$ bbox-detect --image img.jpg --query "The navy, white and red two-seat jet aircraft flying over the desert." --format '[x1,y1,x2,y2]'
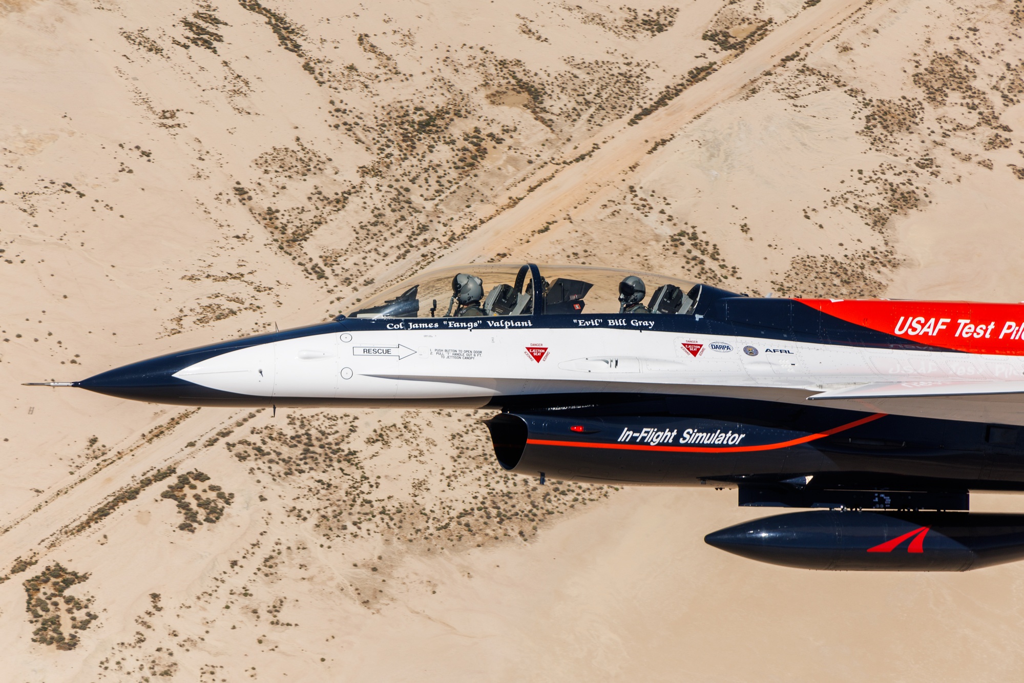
[23,262,1024,513]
